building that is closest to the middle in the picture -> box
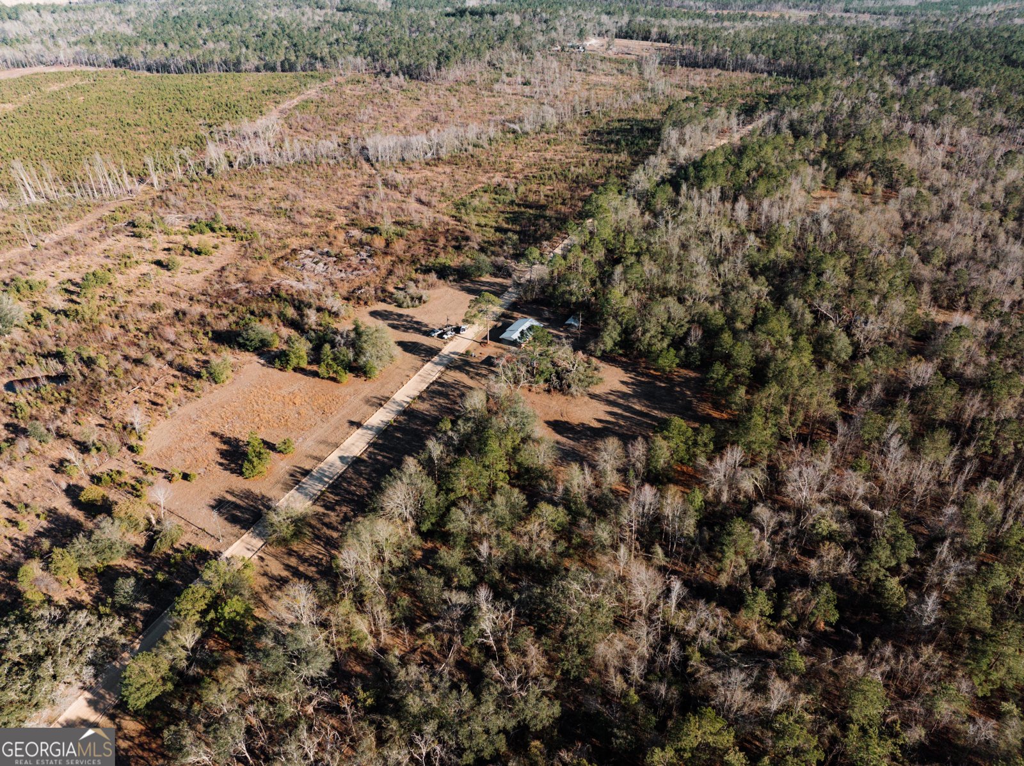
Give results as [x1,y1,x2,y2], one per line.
[497,318,543,351]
